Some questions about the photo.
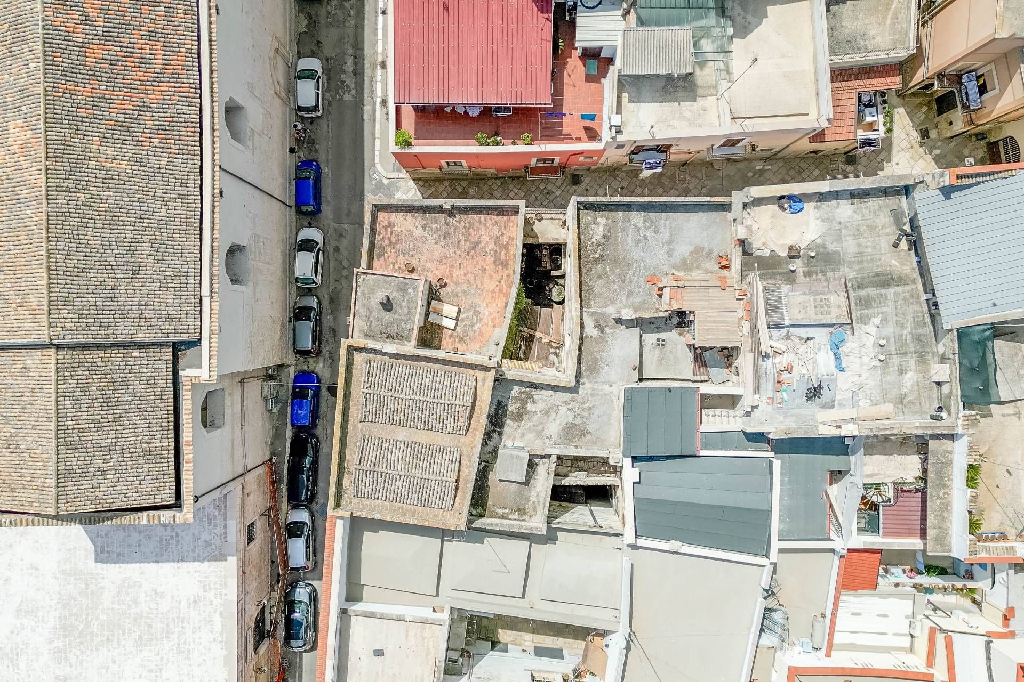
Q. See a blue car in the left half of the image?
Yes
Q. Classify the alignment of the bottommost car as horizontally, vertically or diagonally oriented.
vertically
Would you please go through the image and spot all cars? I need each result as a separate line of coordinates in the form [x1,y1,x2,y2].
[291,159,323,216]
[290,227,324,289]
[283,433,319,506]
[289,295,323,358]
[286,370,319,429]
[285,506,316,572]
[291,58,324,118]
[281,580,316,654]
